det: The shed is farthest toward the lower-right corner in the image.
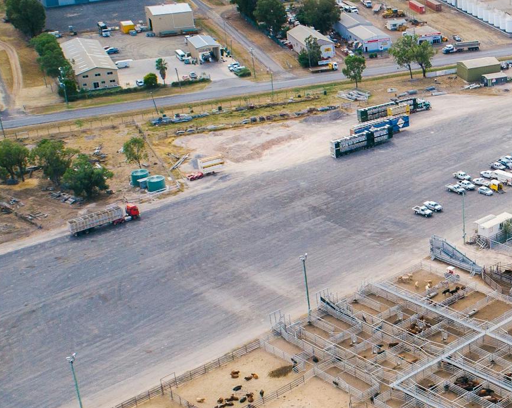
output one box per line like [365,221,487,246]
[472,212,512,249]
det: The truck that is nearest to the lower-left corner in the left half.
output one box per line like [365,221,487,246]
[61,203,144,238]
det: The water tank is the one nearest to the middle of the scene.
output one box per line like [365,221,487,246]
[141,174,169,195]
